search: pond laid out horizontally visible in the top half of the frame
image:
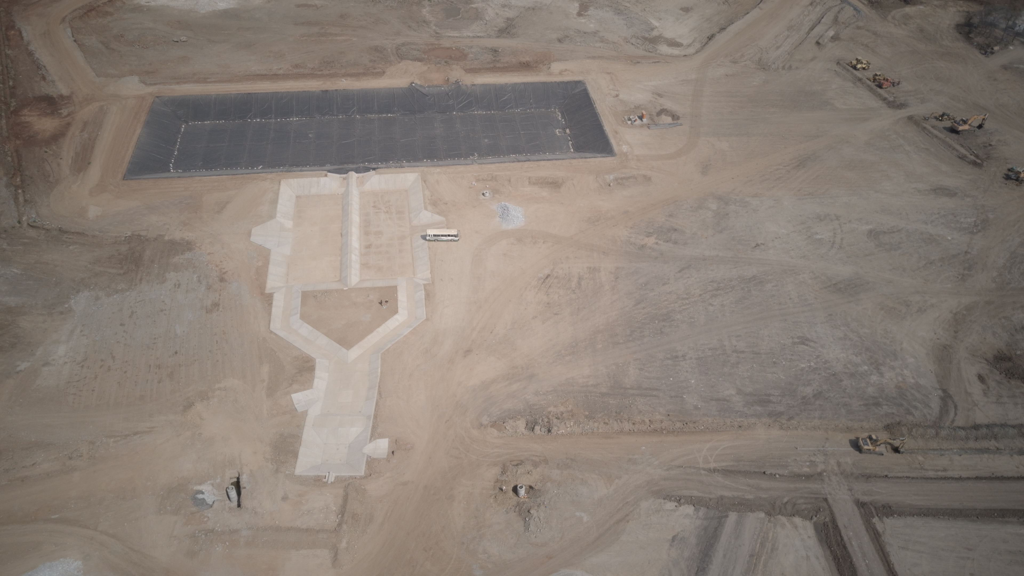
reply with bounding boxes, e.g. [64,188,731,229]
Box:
[125,81,615,179]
